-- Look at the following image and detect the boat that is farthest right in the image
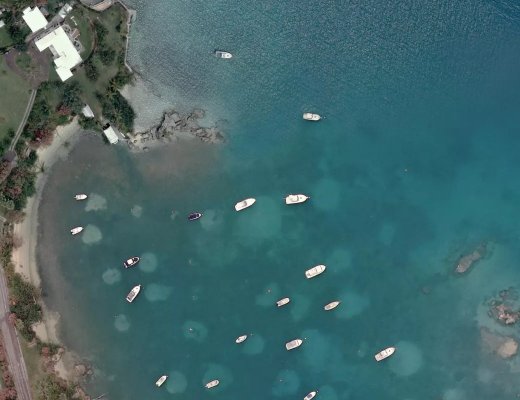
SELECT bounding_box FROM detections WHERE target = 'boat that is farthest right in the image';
[374,348,395,362]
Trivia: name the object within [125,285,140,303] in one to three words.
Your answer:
boat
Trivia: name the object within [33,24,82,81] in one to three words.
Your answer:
house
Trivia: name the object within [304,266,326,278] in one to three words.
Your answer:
boat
